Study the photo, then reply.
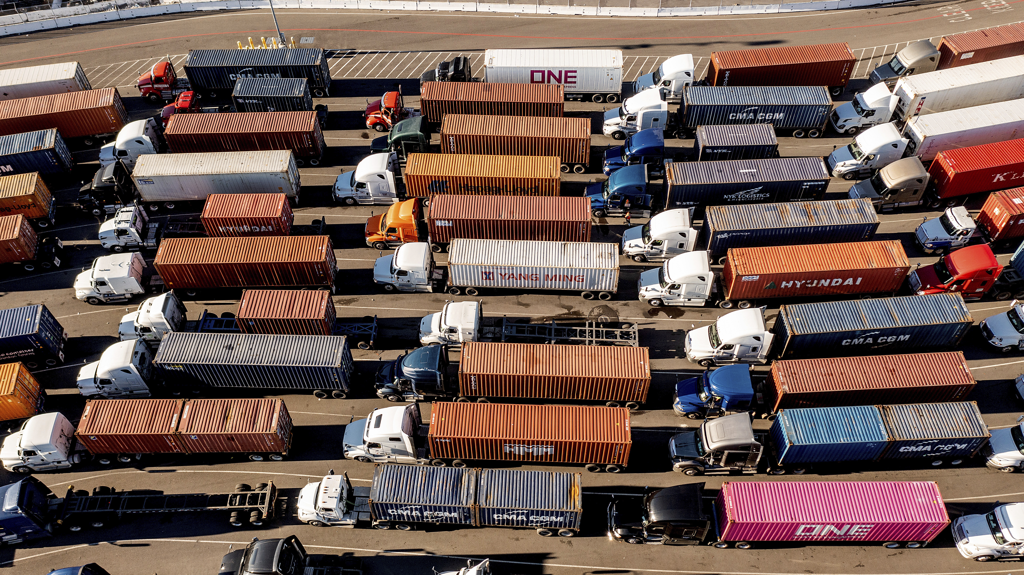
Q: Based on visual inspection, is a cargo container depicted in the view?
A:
Yes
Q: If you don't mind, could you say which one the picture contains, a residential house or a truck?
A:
truck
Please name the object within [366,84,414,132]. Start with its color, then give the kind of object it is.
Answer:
red truck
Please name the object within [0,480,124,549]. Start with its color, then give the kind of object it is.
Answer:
black truck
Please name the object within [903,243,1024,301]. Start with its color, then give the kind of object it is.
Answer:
red truck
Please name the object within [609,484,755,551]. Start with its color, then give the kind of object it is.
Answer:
black truck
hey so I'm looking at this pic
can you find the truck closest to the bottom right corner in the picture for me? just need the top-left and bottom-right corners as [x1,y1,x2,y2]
[952,500,1024,562]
